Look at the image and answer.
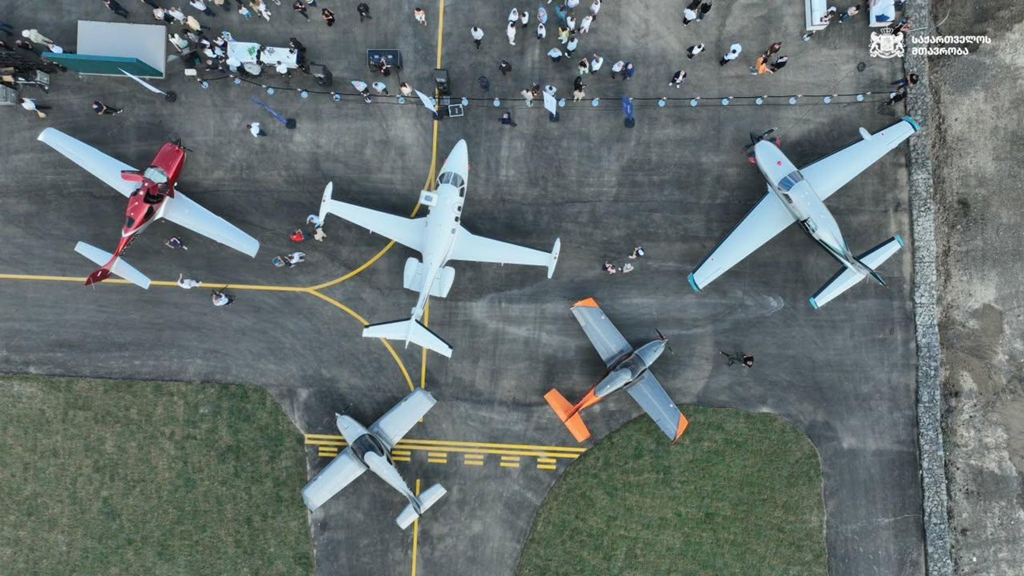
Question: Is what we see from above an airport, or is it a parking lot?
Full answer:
The area seen from above is an airport.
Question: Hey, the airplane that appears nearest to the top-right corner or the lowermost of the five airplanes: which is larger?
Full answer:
The airplane that appears nearest to the top-right corner takes up more space than the lowermost of the five airplanes does.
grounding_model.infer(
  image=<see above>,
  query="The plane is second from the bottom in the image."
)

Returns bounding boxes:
[546,298,688,443]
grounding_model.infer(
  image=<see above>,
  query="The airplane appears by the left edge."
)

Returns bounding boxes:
[37,127,261,287]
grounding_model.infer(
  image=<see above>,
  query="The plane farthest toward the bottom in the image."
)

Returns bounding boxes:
[303,388,445,533]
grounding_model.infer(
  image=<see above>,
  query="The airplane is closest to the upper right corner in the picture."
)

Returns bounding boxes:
[688,117,920,308]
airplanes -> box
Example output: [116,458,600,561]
[303,388,445,533]
[688,117,920,308]
[546,298,688,443]
[320,138,560,357]
[37,127,261,287]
